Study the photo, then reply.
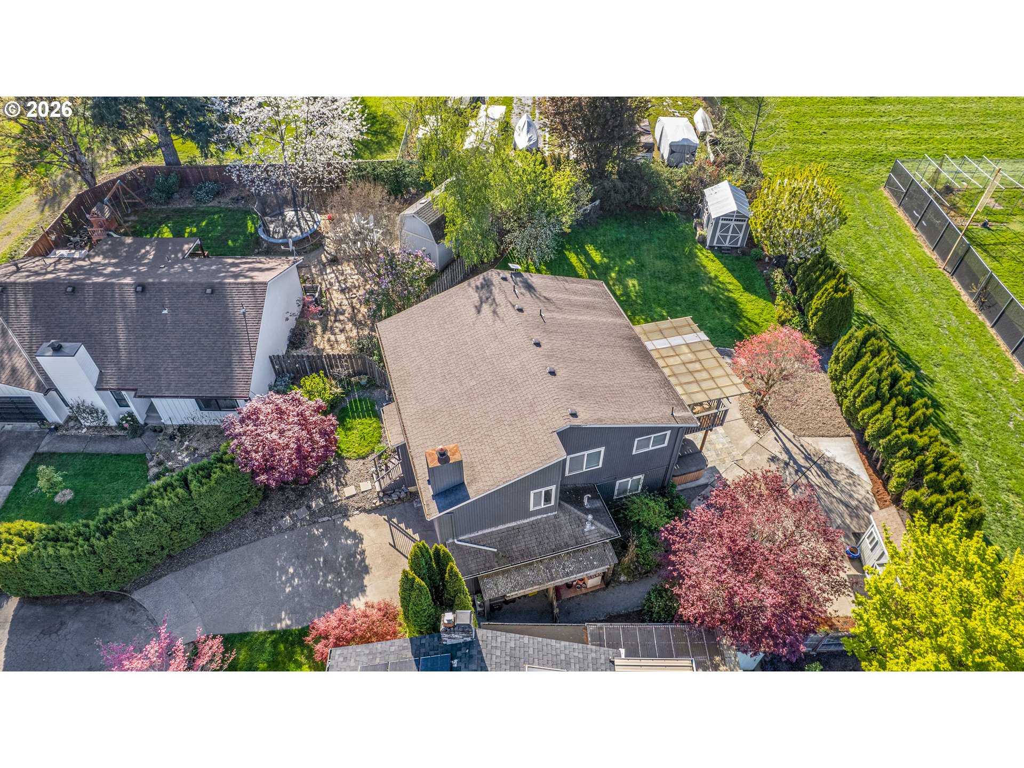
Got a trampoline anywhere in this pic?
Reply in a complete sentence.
Yes, you can see a trampoline in this photo.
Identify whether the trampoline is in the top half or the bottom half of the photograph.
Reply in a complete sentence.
The trampoline is in the top half of the image.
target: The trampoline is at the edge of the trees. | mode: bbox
[254,186,323,252]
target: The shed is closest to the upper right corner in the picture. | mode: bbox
[700,181,757,251]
